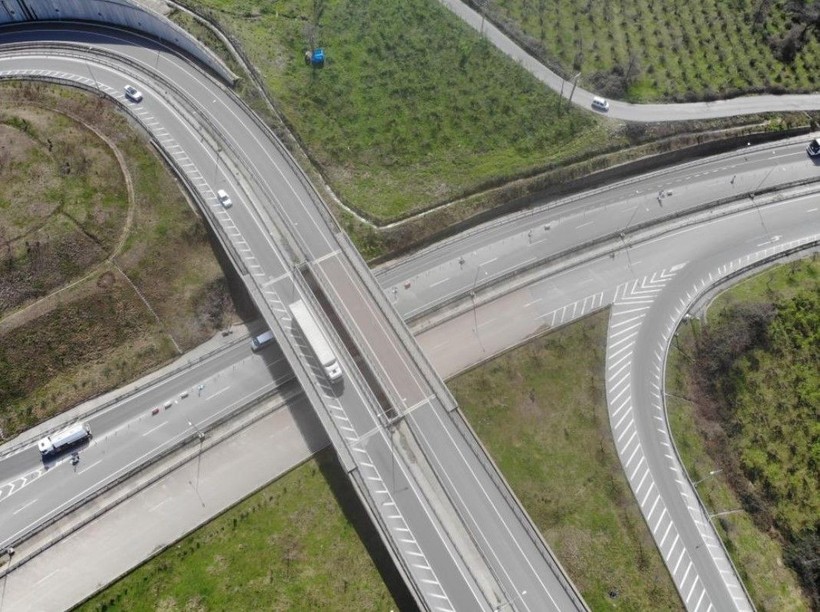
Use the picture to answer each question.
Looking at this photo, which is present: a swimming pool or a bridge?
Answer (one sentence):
I can see a bridge in this picture.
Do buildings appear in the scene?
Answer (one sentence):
No, the photo shows no building.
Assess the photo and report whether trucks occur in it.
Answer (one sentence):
Yes, there's a truck here.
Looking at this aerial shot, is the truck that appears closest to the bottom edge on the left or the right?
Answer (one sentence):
It is on the left.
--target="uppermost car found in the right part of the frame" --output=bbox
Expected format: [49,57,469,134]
[591,95,609,110]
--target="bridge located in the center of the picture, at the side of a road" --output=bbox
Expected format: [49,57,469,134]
[233,220,458,472]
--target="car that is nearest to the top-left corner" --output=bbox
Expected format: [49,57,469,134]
[123,85,142,99]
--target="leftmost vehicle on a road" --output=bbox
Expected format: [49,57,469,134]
[34,427,98,463]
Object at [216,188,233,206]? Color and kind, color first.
white car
